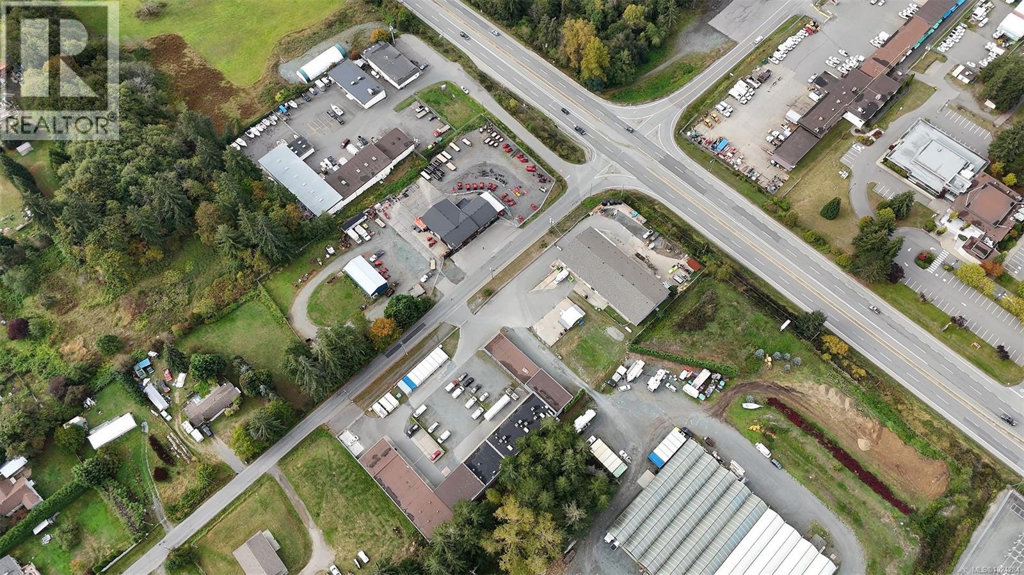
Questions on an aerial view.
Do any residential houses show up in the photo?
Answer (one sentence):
Yes, the image includes a residential house.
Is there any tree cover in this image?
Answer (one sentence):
Yes, there is tree cover in the image.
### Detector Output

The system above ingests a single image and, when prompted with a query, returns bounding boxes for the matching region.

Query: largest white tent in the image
[296,40,348,82]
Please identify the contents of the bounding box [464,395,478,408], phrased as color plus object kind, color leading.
white vehicle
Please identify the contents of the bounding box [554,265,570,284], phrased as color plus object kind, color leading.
white camper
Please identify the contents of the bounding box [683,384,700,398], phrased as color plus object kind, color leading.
white camper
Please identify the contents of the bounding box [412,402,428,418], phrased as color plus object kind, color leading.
white vehicle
